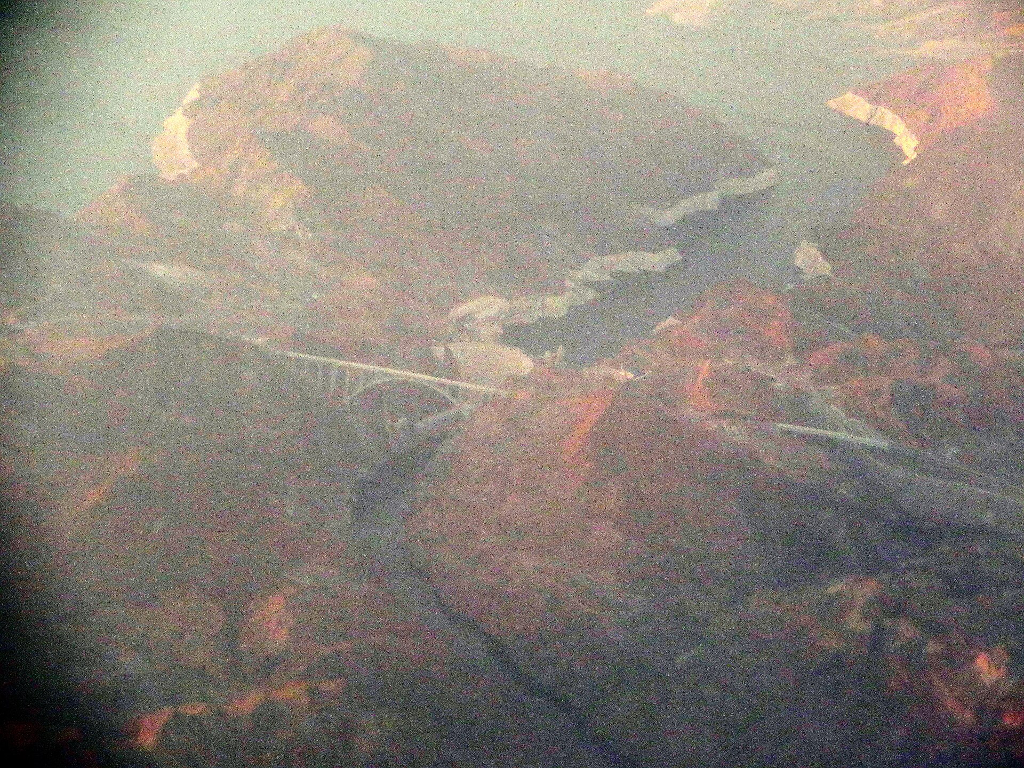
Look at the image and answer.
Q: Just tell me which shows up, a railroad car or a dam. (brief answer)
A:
dam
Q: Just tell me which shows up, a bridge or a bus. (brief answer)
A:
bridge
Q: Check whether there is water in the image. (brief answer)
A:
Yes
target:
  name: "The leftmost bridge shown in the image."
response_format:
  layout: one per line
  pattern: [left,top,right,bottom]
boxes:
[247,337,519,429]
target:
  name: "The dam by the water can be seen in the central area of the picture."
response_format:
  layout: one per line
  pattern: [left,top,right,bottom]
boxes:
[434,340,537,423]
